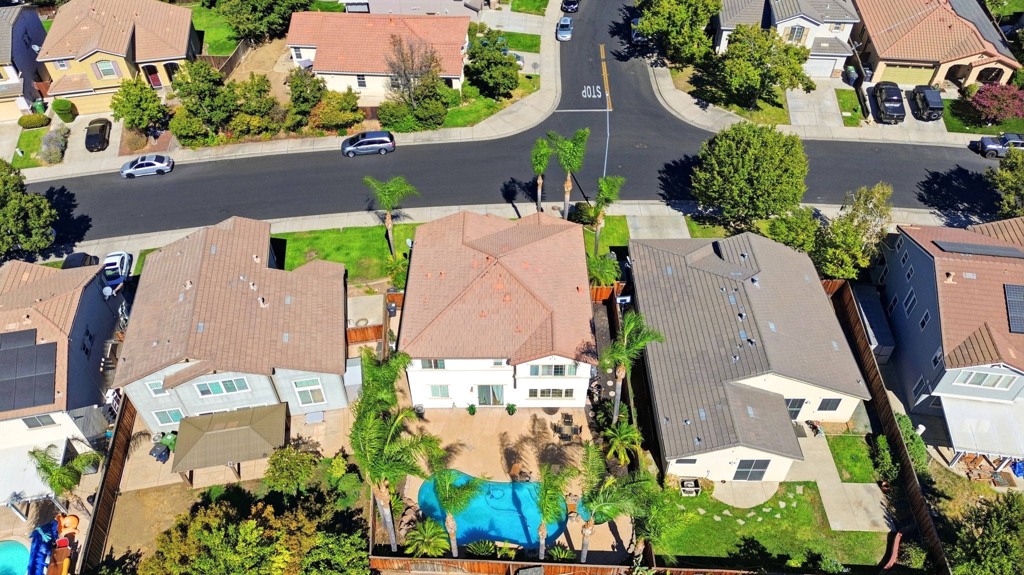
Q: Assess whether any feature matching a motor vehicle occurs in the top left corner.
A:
Yes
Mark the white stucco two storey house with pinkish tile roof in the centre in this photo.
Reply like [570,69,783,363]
[396,206,598,412]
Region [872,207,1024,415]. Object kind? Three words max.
house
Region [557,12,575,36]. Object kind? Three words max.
car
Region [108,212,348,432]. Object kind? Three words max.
house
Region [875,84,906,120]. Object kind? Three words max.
vehicle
